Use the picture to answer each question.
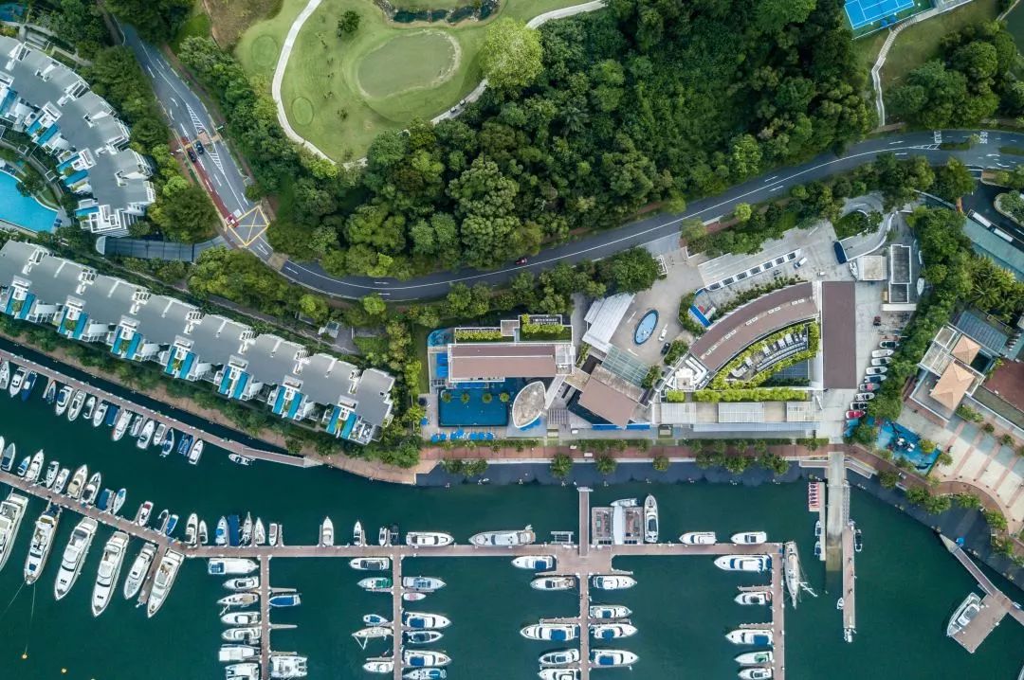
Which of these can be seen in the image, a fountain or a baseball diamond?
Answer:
fountain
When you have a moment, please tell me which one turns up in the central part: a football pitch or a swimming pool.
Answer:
swimming pool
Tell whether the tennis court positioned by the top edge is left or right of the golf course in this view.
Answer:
right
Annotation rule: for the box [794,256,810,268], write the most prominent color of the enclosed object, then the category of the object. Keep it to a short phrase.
white vehicle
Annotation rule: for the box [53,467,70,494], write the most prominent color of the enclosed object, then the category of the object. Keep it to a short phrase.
white boat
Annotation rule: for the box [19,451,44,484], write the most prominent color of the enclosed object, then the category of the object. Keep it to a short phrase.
white boat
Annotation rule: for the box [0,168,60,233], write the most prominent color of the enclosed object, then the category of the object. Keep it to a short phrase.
blue swimming pool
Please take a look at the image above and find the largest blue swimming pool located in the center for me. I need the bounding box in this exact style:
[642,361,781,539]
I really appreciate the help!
[438,378,539,428]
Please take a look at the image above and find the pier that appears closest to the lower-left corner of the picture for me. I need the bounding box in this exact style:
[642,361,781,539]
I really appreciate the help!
[0,470,186,603]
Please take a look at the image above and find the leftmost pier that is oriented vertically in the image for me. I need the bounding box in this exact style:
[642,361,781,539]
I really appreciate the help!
[261,557,298,680]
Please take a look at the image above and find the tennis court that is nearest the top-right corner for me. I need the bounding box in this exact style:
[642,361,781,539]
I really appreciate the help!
[838,0,931,41]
